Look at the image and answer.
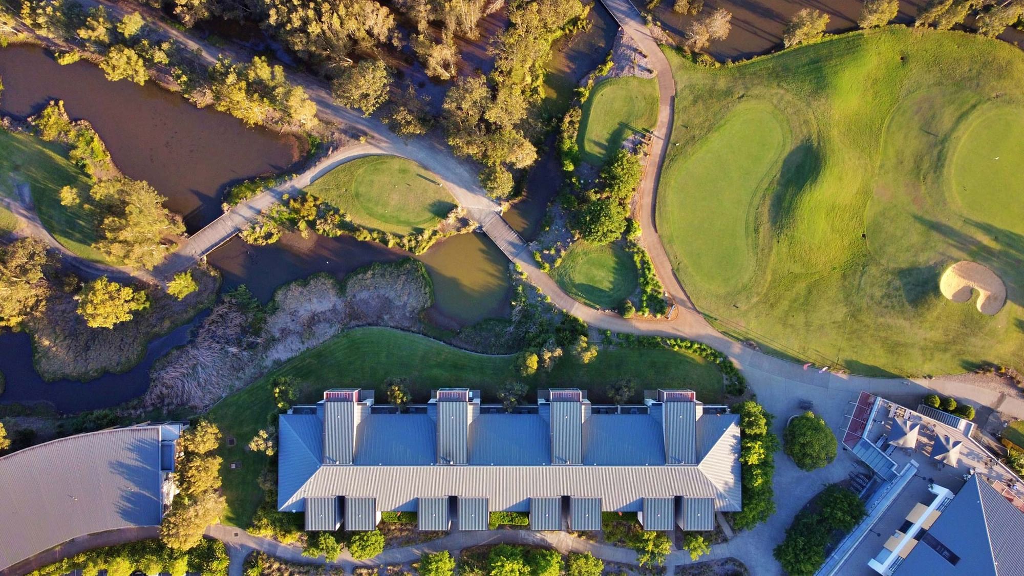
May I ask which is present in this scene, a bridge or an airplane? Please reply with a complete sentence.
The one in the frame is a bridge.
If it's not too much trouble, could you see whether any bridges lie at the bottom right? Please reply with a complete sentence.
No, I see no bridge at the bottom right.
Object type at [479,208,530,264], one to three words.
bridge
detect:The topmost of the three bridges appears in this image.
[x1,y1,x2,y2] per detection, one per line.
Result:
[599,0,645,28]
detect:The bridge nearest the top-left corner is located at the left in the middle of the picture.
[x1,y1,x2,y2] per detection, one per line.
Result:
[183,209,245,260]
